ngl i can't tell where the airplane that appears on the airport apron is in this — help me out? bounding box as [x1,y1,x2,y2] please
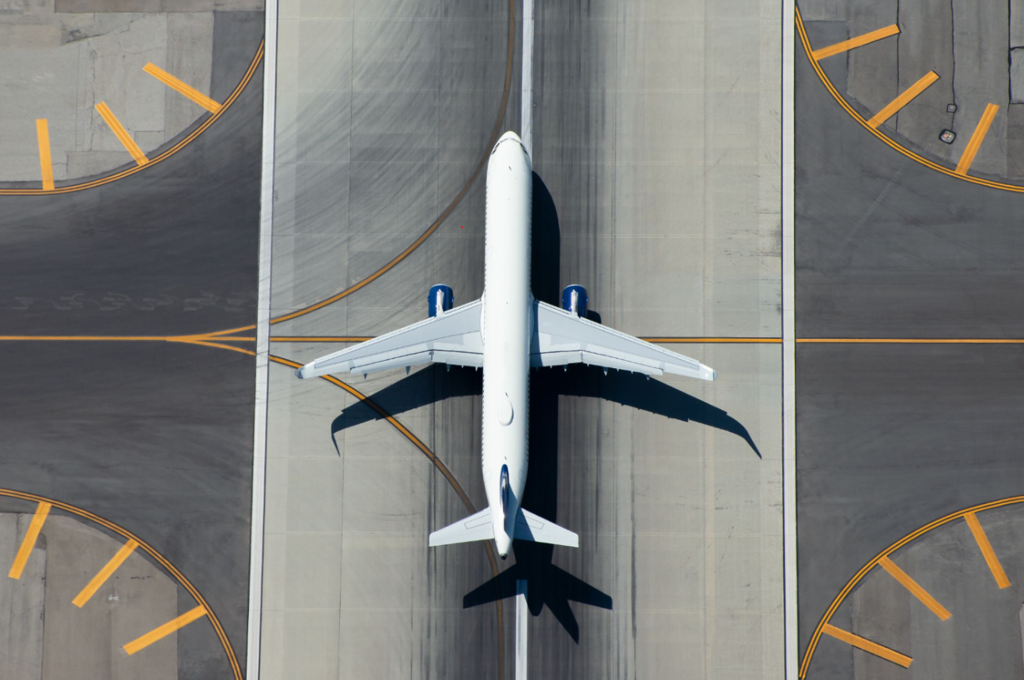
[295,131,717,562]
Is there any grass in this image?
No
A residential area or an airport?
airport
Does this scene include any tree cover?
No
